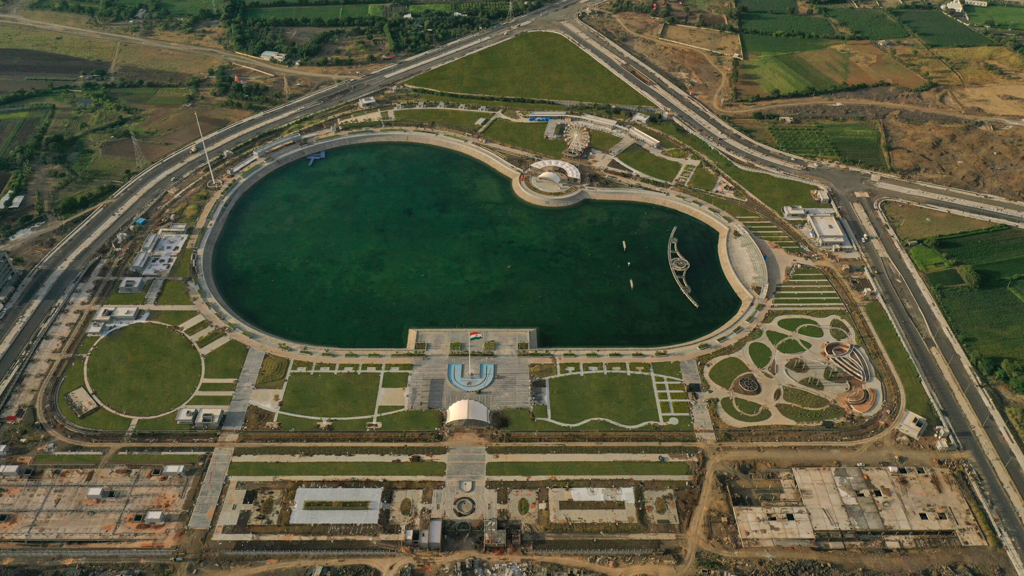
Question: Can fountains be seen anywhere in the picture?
Yes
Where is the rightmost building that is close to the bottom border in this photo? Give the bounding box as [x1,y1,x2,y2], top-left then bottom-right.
[727,467,989,551]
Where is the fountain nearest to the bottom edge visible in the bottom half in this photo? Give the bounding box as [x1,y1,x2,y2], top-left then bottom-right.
[453,497,476,515]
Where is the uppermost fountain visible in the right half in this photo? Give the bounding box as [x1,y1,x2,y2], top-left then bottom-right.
[667,225,700,307]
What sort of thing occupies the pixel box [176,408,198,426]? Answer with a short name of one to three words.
building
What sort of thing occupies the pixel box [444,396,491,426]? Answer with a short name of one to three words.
tent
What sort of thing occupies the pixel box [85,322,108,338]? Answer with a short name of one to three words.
building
